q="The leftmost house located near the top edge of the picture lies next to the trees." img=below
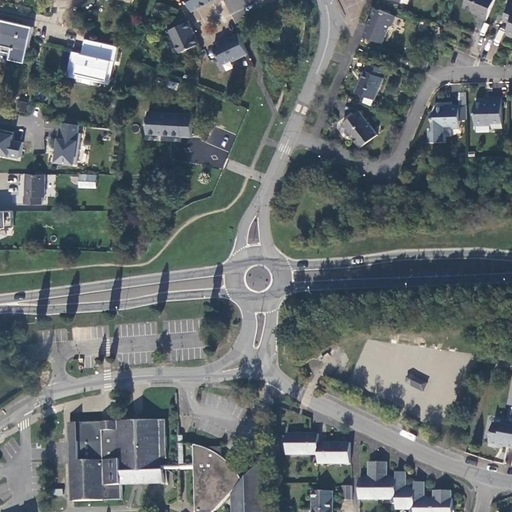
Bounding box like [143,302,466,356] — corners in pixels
[0,20,34,68]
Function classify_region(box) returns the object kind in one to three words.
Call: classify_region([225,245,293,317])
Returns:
roundabout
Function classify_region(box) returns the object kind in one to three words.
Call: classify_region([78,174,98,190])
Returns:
shed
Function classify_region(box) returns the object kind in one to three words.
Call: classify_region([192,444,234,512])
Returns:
building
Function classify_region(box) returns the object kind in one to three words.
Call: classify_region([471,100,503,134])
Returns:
house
